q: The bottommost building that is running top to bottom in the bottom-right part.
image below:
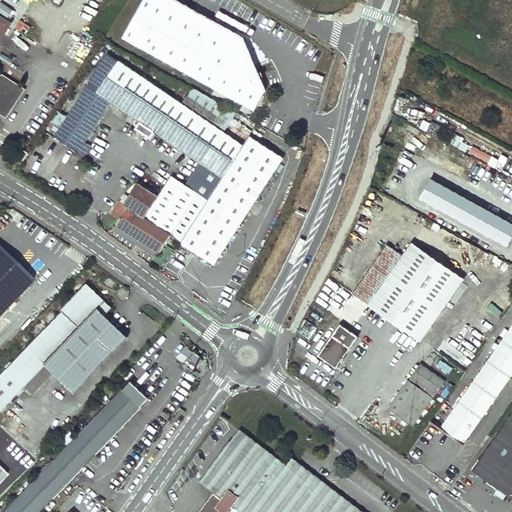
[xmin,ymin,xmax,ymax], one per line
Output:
[472,409,512,498]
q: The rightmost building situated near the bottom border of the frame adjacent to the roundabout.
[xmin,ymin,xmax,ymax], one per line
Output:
[200,429,365,512]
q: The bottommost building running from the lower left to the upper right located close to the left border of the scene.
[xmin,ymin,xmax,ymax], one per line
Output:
[7,382,148,512]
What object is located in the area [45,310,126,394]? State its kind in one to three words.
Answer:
building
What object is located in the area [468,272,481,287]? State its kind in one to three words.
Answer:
vehicle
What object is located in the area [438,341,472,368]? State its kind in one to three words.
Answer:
shed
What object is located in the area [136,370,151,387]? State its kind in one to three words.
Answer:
vehicle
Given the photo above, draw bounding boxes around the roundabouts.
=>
[214,325,288,396]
